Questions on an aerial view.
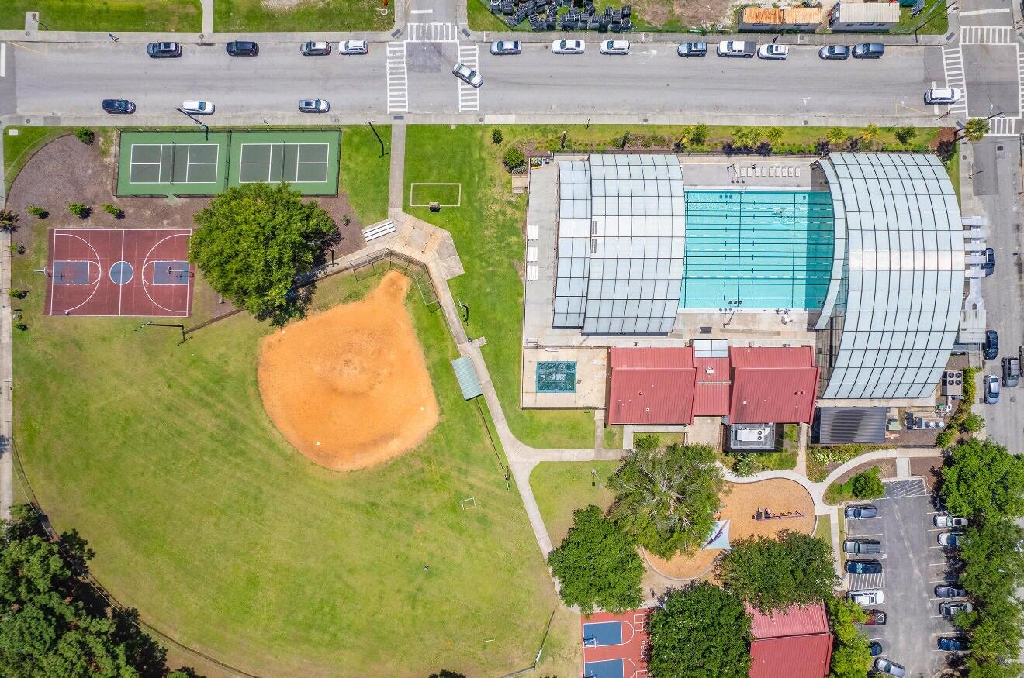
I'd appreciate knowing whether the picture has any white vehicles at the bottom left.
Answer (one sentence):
No, no white vehicle is visible at the bottom left.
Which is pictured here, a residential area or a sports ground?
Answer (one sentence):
It's a sports ground.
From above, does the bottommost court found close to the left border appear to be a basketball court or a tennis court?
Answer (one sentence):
From above, the bottommost court found close to the left border can be identified as a basketball court.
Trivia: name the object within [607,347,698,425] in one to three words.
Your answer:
building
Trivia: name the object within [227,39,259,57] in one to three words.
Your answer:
car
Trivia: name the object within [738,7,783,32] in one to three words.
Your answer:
shed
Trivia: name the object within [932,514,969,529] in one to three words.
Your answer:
vehicle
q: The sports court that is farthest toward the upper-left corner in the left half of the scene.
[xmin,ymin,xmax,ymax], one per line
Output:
[117,130,228,206]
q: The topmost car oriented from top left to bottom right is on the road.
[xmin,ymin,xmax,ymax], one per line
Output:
[452,63,484,88]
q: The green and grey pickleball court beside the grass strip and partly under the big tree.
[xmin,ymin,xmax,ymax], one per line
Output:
[228,130,340,195]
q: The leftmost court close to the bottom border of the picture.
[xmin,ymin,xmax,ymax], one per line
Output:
[581,608,666,678]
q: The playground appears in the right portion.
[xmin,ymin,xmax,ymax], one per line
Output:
[640,478,818,579]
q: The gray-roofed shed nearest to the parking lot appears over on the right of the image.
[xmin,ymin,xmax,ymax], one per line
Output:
[812,406,887,443]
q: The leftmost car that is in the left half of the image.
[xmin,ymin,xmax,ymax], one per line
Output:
[102,98,138,114]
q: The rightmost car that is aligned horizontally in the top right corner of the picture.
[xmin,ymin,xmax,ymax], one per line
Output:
[921,87,959,105]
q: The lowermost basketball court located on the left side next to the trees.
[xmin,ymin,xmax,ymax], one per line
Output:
[45,228,192,317]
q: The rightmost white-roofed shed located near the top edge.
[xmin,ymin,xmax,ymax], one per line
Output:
[831,3,900,31]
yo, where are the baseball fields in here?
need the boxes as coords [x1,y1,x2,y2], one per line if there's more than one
[13,267,555,678]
